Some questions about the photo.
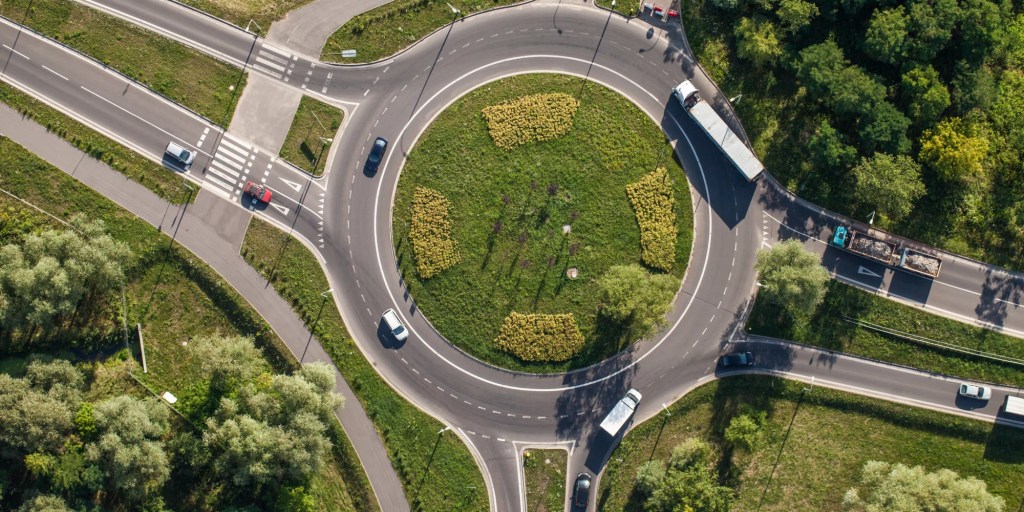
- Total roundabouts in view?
1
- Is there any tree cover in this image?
Yes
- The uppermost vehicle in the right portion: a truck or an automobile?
truck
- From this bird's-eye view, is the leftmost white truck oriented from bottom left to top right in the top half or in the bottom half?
bottom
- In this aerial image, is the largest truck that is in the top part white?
Yes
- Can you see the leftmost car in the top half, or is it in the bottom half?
top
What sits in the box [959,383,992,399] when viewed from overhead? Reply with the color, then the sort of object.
white car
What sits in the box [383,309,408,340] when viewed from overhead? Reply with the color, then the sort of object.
white car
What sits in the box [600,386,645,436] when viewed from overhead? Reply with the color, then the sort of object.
white truck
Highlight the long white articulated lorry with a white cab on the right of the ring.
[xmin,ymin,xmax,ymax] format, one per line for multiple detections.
[673,81,763,182]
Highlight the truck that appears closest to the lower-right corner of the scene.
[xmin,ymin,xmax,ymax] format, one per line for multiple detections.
[1002,395,1024,417]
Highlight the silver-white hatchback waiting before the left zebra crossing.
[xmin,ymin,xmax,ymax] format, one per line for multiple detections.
[166,141,194,164]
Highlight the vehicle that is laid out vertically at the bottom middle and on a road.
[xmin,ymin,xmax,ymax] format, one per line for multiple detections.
[576,472,591,507]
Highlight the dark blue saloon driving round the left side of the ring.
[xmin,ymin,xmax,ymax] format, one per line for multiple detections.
[368,138,388,172]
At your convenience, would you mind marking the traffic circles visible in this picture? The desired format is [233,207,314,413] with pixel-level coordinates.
[324,5,763,442]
